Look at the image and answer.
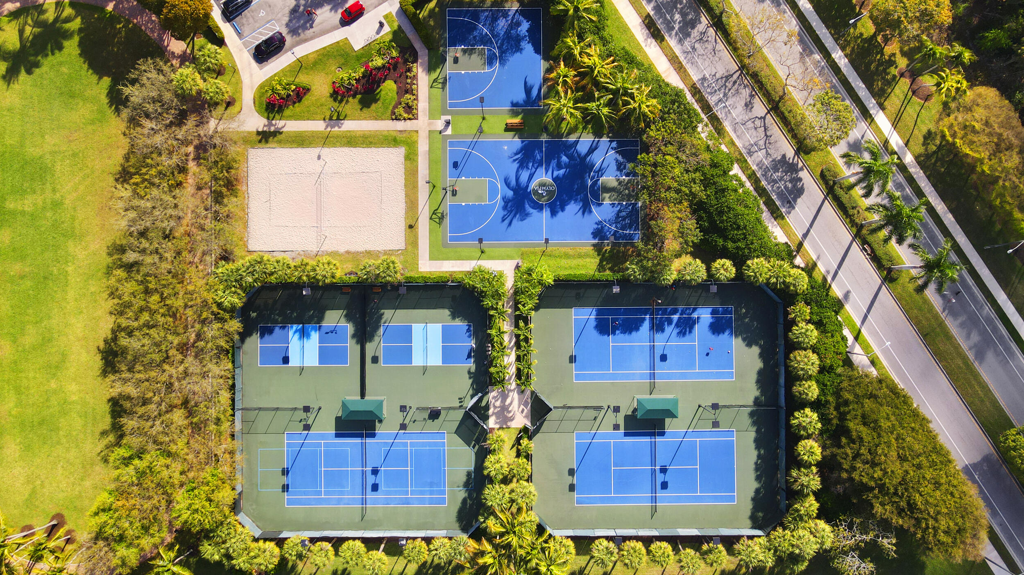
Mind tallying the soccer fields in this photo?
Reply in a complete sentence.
The count of soccer fields is 0.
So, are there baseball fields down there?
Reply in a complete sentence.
No, I find no baseball field anywhere in the image.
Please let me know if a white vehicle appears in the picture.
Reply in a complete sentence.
No, the photo shows no white vehicle.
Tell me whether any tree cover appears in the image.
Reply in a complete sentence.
Yes, the picture does contain tree cover.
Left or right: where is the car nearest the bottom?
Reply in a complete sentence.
The car nearest the bottom sits on the left side.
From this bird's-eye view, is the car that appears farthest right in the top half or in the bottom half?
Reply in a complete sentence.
You can find the car that appears farthest right in the top half.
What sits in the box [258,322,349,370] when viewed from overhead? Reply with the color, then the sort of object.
blue sports court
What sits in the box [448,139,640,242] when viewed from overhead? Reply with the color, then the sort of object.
blue basketball court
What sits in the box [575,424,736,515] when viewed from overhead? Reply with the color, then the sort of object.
blue tennis court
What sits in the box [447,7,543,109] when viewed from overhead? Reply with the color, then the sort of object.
blue basketball court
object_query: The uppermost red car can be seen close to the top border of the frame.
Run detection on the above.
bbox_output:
[341,0,369,23]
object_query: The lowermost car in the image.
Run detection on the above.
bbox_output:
[254,31,286,57]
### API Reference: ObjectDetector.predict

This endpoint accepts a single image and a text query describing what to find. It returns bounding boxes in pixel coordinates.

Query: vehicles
[341,0,369,23]
[221,0,255,18]
[254,31,286,57]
